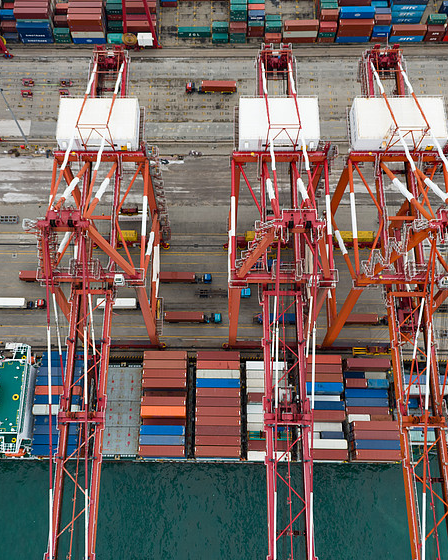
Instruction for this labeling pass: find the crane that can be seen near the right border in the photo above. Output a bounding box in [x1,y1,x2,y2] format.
[316,43,448,560]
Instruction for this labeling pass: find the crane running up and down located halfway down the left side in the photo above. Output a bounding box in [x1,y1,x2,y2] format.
[16,43,174,560]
